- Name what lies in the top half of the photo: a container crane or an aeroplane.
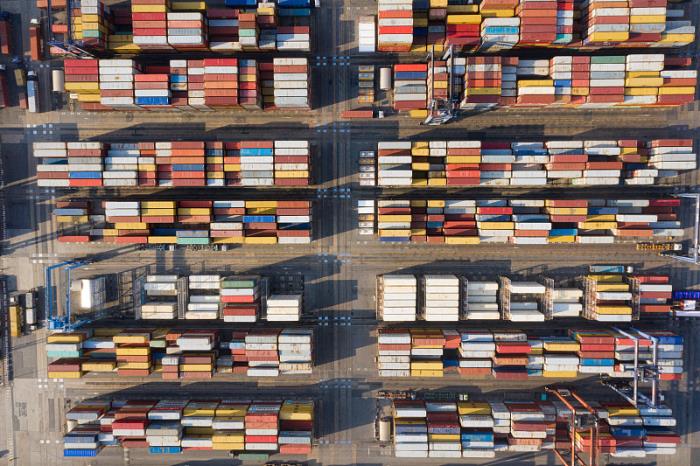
container crane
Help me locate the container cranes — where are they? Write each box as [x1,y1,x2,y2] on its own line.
[546,383,597,466]
[656,190,700,264]
[42,0,103,60]
[600,320,659,406]
[419,45,457,128]
[44,258,102,336]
